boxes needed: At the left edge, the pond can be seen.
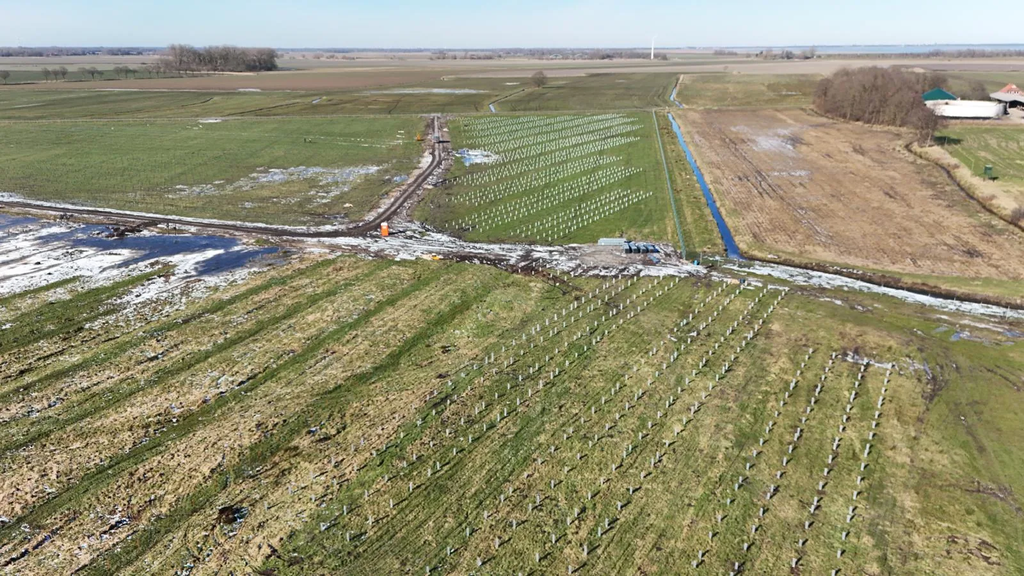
[0,217,285,279]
